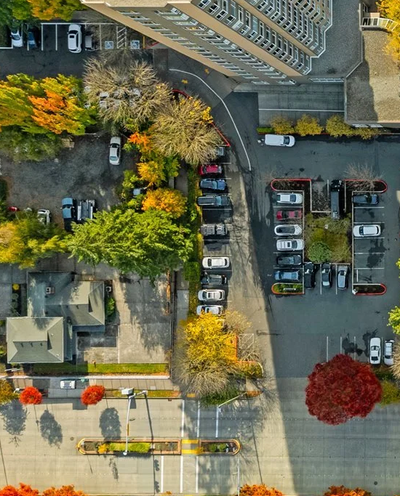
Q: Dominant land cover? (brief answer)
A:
paved ground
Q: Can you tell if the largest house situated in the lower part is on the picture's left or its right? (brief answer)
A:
left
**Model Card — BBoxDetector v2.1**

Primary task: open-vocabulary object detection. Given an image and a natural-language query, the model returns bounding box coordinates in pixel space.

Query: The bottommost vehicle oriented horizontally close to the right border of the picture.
[353,224,382,236]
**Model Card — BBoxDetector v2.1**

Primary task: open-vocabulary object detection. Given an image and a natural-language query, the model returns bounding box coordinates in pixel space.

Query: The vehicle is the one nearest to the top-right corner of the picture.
[264,133,294,146]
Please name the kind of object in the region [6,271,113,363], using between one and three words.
house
